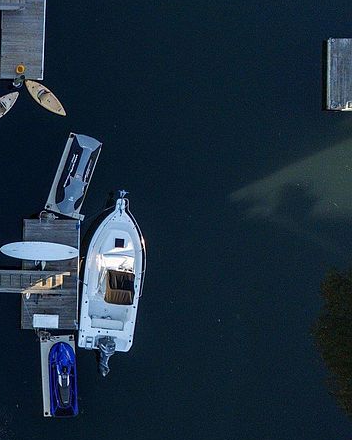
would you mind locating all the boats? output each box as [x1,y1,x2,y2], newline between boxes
[24,80,67,115]
[0,93,20,117]
[49,340,78,417]
[78,190,150,379]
